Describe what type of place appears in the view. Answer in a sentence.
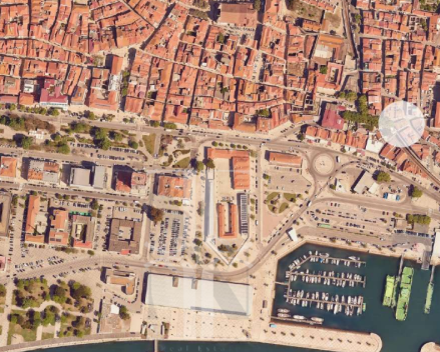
It's a residential area.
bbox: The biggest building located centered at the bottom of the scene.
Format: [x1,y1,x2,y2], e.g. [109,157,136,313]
[146,273,249,317]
